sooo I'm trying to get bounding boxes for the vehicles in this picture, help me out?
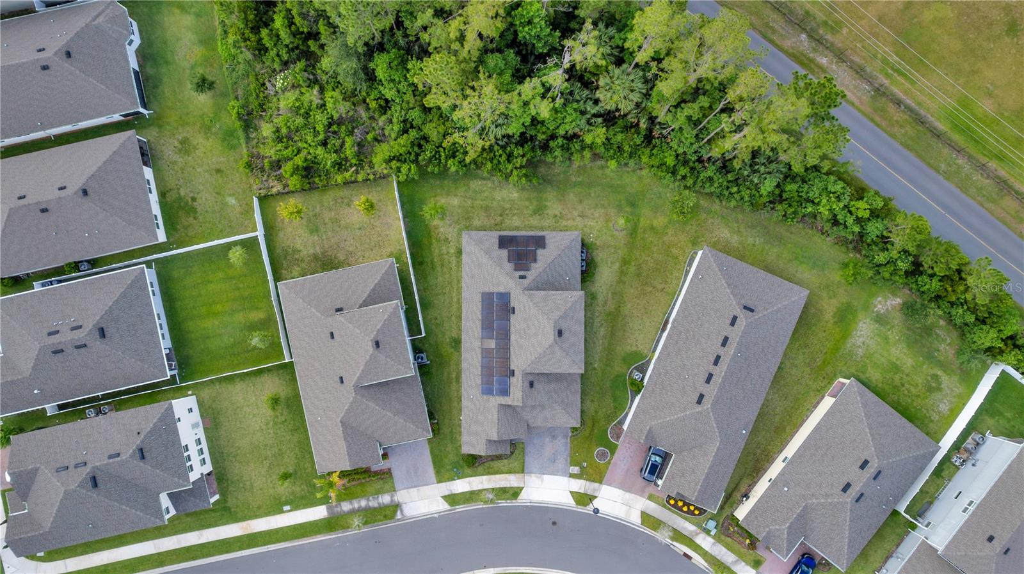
[639,446,665,486]
[789,551,816,574]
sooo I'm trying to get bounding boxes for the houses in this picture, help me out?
[0,264,177,417]
[278,258,433,475]
[875,435,1024,574]
[0,129,166,278]
[4,396,220,558]
[0,0,153,146]
[733,377,941,572]
[624,246,809,514]
[0,0,82,14]
[462,231,585,455]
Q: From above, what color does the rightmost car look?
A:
blue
